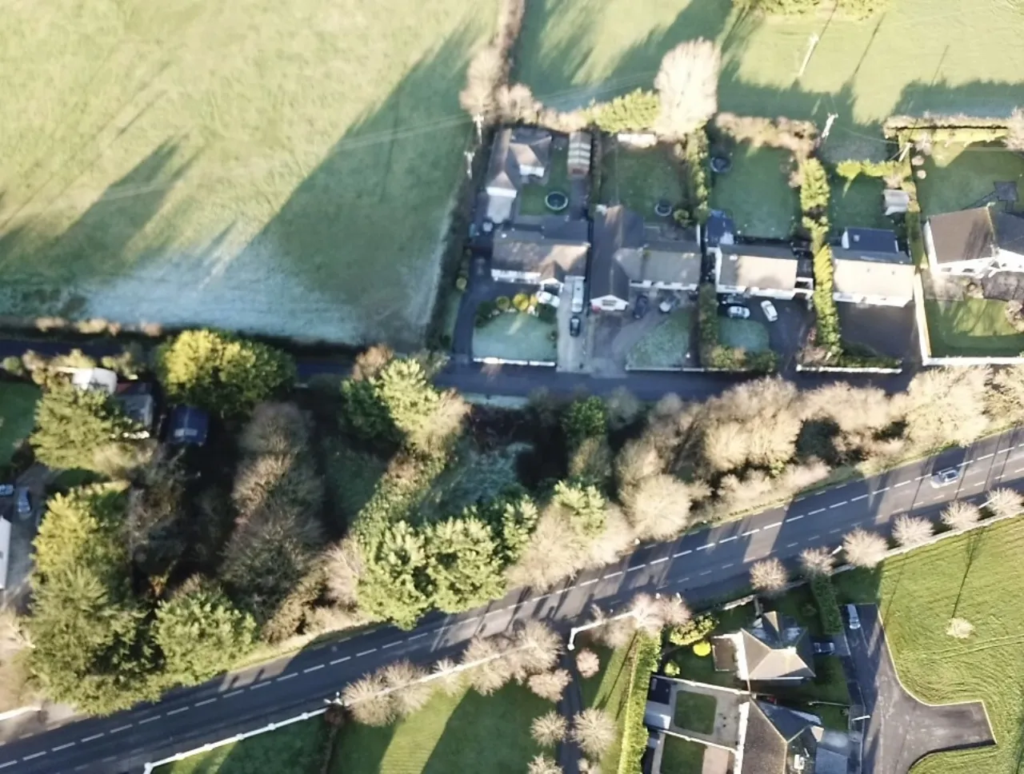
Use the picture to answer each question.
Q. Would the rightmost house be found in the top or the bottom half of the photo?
top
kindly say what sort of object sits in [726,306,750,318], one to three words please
vehicle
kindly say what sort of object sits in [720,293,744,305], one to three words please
vehicle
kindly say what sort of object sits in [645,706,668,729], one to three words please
shed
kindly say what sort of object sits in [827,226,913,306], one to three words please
house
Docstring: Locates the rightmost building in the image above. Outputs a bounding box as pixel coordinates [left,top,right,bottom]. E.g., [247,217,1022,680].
[901,200,1024,283]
